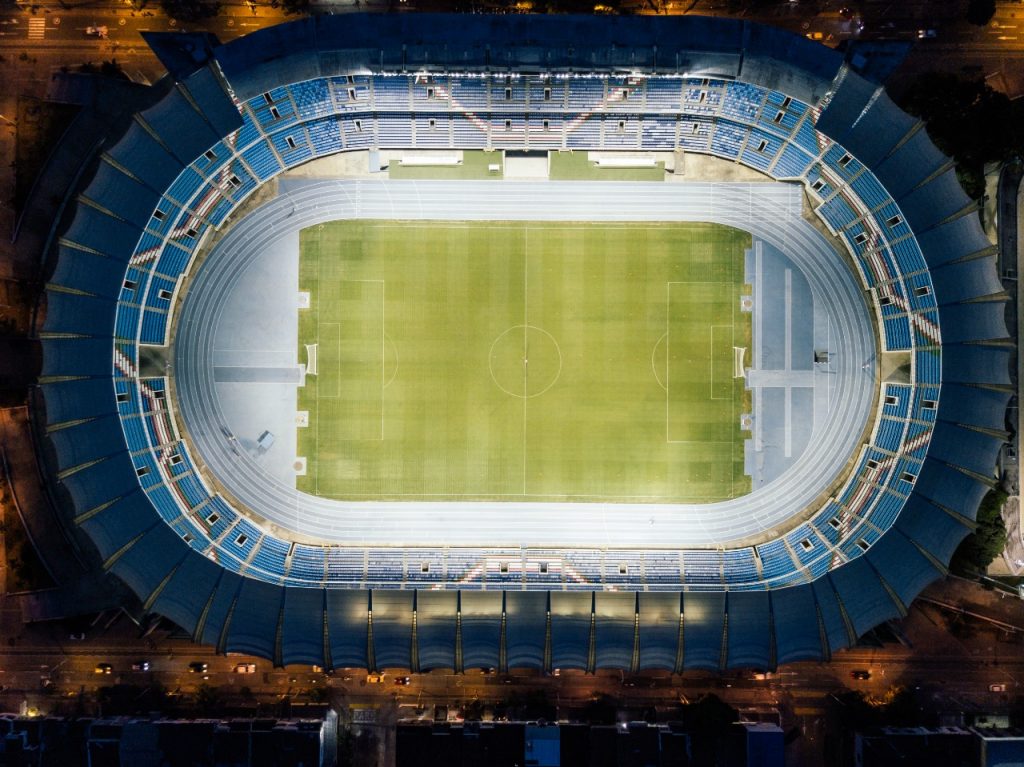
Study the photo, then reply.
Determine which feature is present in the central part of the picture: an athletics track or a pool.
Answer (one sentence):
You can see an athletics track in the central part of the picture.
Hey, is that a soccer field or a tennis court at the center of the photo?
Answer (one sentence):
Visible at the center of the photo is a soccer field.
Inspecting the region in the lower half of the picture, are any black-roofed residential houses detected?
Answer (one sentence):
Yes, the scene does show a black-roofed residential house in the lower half of the picture.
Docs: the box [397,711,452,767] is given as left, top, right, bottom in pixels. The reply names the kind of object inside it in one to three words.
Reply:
house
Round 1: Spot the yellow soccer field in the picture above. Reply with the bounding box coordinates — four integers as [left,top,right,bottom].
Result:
[298,219,752,503]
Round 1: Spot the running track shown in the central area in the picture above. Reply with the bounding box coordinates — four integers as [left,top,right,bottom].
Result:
[174,180,875,543]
